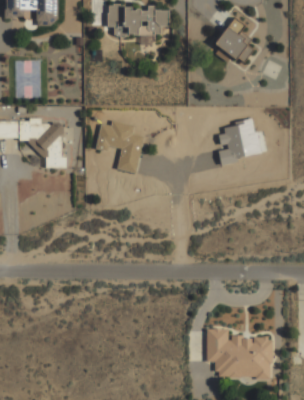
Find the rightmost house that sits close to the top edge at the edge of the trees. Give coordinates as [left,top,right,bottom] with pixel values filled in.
[216,18,252,62]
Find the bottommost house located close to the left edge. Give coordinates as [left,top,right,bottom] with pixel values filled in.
[0,118,68,168]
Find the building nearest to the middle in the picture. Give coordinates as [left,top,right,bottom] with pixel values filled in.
[94,120,142,174]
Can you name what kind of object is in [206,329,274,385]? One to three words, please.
house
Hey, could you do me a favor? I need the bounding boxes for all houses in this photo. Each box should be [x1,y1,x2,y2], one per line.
[107,4,168,45]
[4,0,58,30]
[206,329,274,385]
[0,118,68,168]
[94,120,142,174]
[216,18,252,62]
[218,118,266,166]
